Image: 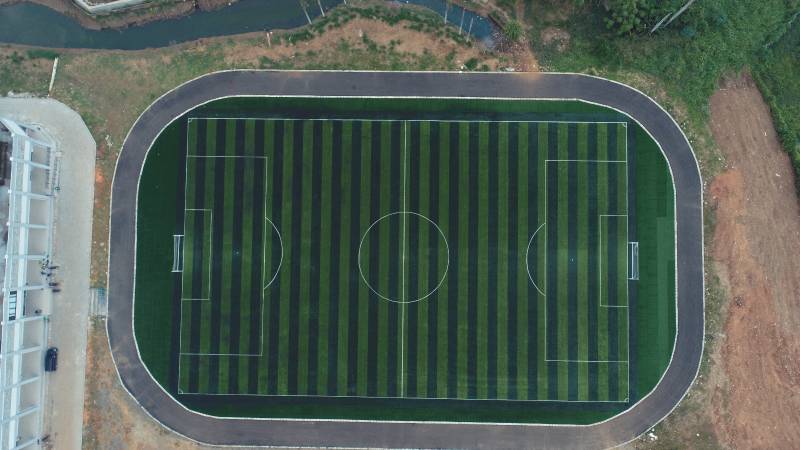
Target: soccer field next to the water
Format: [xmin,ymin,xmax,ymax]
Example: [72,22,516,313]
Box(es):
[134,96,677,425]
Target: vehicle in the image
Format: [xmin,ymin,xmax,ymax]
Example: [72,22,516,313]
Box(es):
[45,348,59,373]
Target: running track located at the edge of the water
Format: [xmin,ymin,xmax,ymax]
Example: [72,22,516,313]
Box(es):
[106,70,705,450]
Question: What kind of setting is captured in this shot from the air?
sports ground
